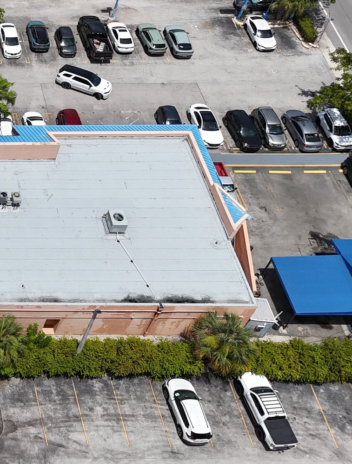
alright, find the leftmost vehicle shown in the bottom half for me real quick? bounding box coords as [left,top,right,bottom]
[164,379,213,445]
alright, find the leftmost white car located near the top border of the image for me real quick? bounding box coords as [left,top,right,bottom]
[0,22,24,59]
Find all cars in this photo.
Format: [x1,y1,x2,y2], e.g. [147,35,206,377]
[55,24,79,59]
[57,104,83,125]
[26,19,51,53]
[248,15,279,52]
[157,102,184,124]
[321,107,352,152]
[226,109,262,151]
[136,23,168,57]
[0,110,19,135]
[188,103,224,147]
[107,20,136,54]
[229,0,279,14]
[0,22,24,59]
[55,61,116,99]
[165,26,195,60]
[287,111,322,153]
[23,109,49,125]
[164,379,213,445]
[253,104,290,150]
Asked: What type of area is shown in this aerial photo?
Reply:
parking lot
